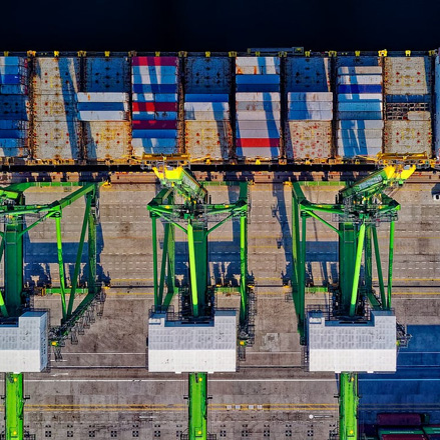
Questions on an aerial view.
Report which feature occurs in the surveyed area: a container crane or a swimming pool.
container crane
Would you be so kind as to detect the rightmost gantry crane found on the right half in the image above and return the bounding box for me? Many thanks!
[284,152,439,440]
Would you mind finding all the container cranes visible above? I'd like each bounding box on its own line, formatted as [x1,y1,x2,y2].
[0,179,106,440]
[131,152,258,440]
[284,152,439,440]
